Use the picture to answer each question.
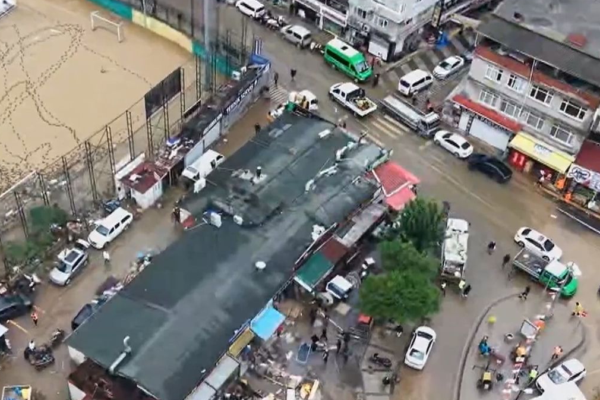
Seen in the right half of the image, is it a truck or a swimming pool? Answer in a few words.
truck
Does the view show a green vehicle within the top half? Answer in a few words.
Yes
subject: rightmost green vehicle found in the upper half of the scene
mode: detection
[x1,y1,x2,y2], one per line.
[323,38,370,80]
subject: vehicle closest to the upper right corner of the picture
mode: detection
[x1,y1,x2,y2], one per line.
[433,58,466,79]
